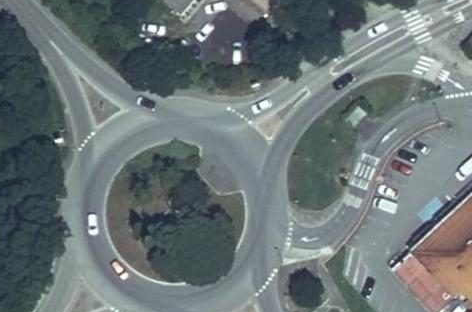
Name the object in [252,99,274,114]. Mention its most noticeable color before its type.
white car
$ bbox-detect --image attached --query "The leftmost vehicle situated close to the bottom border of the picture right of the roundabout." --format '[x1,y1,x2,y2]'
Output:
[360,276,376,299]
